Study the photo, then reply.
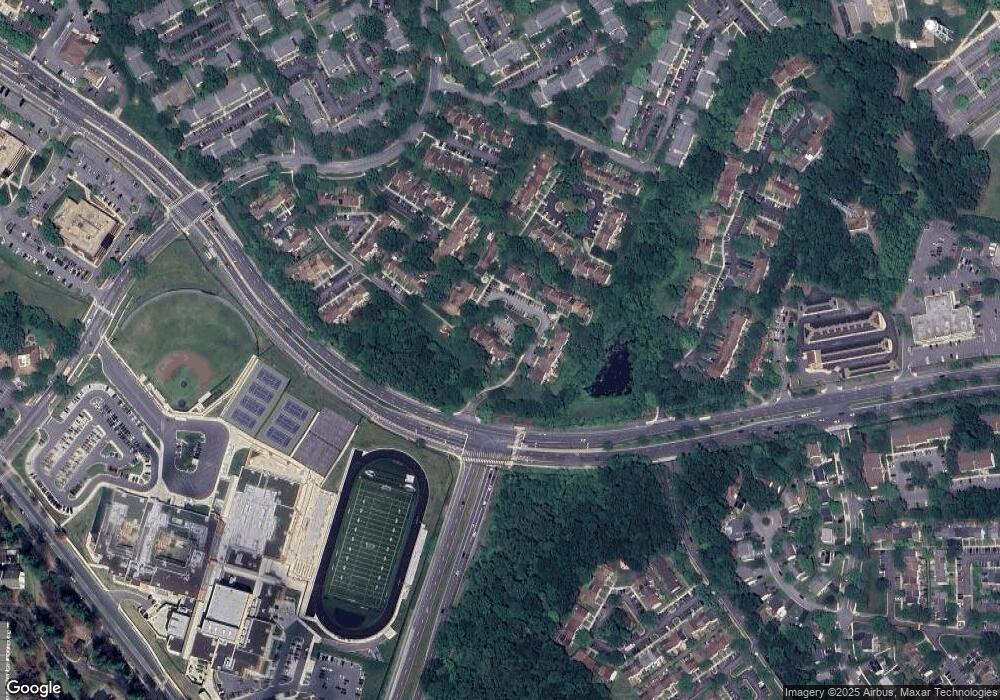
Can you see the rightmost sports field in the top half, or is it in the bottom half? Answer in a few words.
bottom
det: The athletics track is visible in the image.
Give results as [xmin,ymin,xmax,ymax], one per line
[306,448,429,638]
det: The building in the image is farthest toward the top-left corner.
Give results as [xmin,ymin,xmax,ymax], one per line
[60,29,96,68]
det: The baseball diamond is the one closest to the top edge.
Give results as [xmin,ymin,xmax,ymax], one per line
[113,289,258,411]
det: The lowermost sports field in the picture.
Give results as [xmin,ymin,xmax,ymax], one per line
[322,458,420,629]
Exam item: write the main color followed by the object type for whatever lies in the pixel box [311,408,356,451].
gray sports court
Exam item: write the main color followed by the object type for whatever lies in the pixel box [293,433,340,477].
gray sports court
